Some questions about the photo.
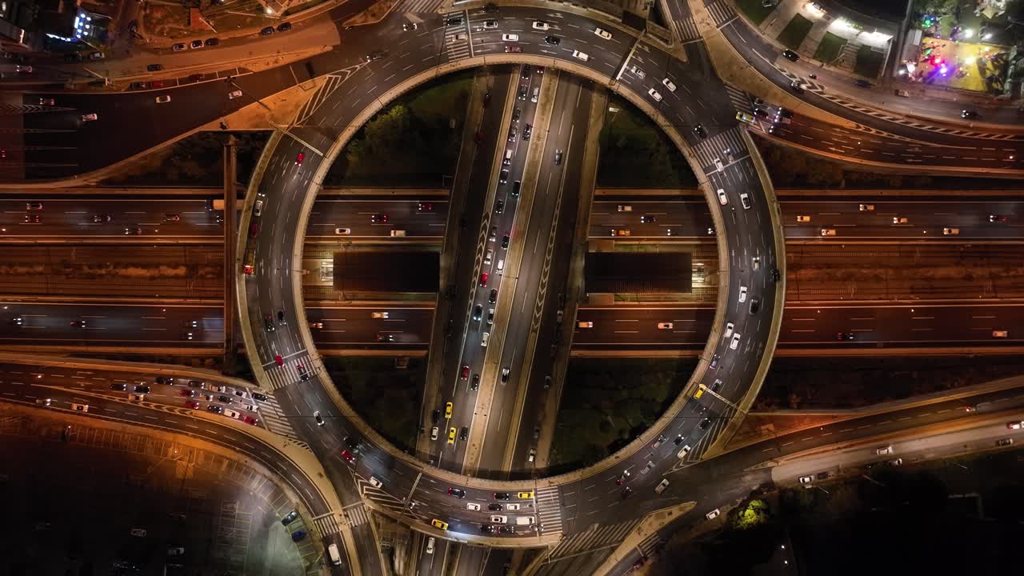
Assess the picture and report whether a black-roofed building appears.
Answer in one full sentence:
Yes, this view includes a black-roofed building.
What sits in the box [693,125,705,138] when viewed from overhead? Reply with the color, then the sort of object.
black vehicle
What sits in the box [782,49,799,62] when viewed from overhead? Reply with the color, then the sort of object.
black vehicle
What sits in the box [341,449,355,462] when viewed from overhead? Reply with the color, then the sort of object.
red vehicle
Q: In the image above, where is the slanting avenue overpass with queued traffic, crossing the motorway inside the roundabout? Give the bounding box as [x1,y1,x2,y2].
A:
[412,0,614,576]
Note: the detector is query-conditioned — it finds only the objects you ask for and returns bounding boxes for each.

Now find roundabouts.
[236,0,786,546]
